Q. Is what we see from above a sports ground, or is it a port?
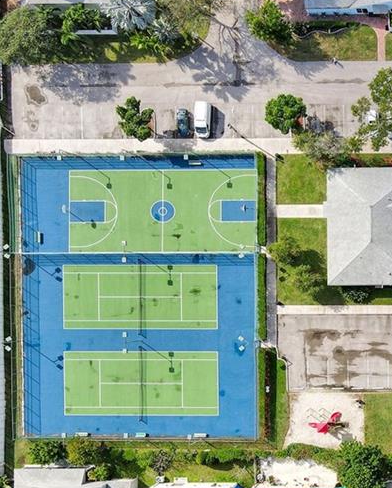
sports ground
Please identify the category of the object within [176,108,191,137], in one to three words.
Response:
car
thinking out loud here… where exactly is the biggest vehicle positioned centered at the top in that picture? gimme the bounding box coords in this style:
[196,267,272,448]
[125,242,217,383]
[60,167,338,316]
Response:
[194,100,212,140]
